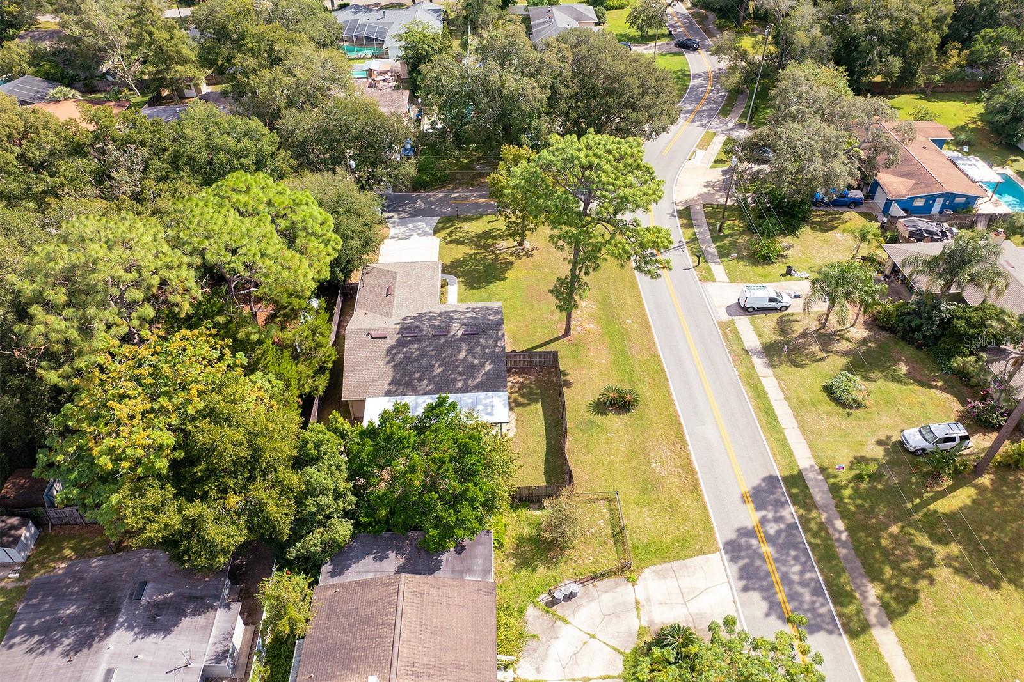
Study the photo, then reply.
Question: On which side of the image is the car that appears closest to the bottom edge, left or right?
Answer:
right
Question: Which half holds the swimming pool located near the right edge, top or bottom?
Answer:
top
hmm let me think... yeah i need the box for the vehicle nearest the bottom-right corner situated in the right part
[894,415,967,456]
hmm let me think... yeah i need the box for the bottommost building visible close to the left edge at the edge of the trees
[0,555,252,682]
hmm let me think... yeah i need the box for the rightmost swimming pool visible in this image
[984,173,1024,211]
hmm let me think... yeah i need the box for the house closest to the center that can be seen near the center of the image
[343,260,509,430]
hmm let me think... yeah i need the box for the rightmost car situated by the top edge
[672,33,702,47]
